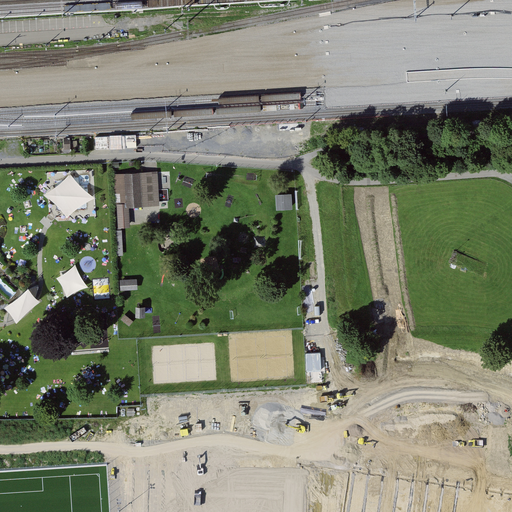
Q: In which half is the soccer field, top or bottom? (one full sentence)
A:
The soccer field sits in the bottom half of the picture.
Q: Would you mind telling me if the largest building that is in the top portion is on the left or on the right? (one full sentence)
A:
It is on the left.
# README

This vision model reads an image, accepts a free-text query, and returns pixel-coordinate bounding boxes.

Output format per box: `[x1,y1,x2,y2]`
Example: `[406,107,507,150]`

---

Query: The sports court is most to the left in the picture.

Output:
[152,343,216,384]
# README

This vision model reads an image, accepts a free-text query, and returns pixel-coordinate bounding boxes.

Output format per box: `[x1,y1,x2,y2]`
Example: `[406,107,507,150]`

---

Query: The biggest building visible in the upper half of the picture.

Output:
[114,172,159,226]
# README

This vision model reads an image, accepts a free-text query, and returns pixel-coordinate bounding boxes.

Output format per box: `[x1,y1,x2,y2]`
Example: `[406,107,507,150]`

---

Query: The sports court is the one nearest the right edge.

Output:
[229,330,294,382]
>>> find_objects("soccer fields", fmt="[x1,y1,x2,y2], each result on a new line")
[0,464,110,512]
